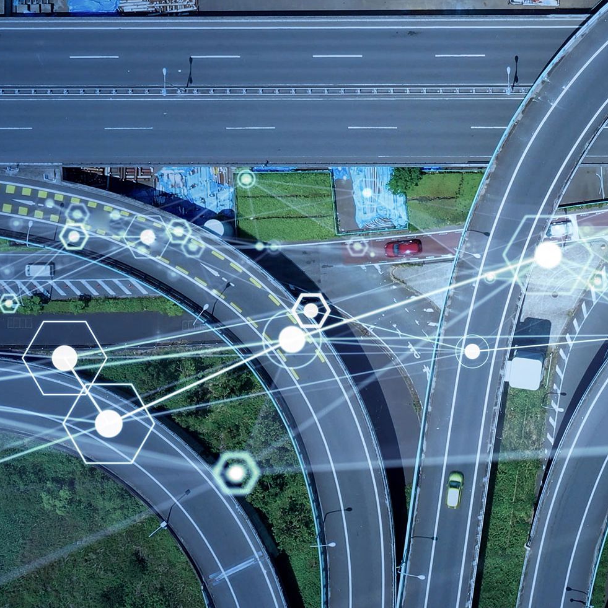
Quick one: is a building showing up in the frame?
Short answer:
No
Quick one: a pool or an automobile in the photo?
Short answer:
automobile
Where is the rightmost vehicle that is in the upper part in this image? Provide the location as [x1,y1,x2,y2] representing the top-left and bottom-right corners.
[543,221,575,237]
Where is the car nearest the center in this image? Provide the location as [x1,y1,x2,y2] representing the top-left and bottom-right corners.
[385,239,423,257]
